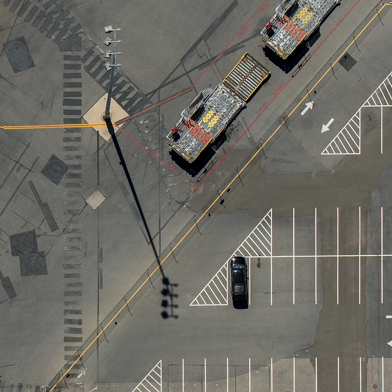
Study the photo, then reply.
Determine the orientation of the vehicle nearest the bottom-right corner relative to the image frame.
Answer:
vertically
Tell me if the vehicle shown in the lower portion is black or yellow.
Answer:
black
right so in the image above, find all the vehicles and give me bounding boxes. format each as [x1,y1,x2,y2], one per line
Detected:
[167,57,273,165]
[229,257,249,301]
[262,0,343,60]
